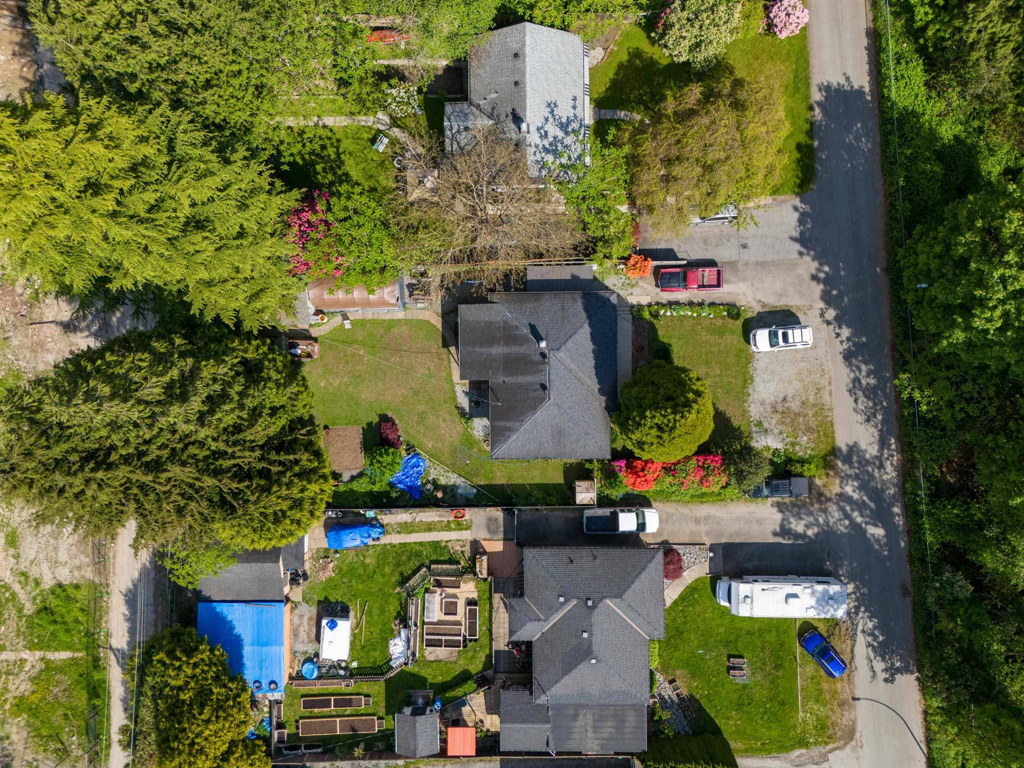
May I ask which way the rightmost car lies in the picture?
diagonally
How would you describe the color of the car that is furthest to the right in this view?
blue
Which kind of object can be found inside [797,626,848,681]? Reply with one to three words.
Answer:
car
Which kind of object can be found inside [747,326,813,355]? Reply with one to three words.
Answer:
car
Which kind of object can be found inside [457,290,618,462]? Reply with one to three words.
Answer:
house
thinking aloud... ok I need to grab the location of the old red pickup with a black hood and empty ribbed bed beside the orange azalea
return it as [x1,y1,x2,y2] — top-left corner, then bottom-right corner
[659,264,728,292]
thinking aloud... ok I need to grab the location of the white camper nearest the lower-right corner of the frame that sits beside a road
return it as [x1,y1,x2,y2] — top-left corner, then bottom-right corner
[713,571,847,618]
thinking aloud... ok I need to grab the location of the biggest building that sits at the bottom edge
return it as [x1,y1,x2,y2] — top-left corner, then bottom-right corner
[499,546,667,756]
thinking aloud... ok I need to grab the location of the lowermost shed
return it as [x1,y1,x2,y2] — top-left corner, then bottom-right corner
[395,705,439,757]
